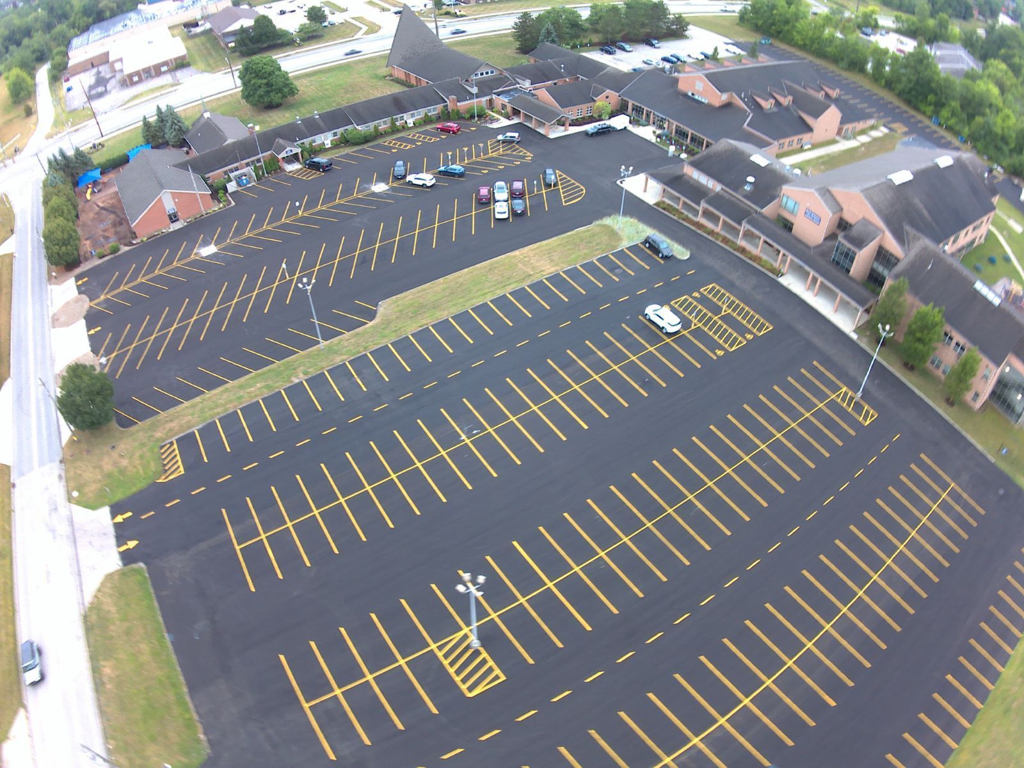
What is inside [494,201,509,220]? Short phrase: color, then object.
white car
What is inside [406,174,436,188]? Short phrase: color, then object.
white car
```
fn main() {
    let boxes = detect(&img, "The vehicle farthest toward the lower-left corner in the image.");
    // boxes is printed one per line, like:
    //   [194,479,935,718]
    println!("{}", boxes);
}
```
[17,640,44,689]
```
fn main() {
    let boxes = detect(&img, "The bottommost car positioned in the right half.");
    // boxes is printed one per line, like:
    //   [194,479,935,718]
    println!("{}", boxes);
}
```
[647,307,684,336]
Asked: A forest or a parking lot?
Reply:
parking lot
